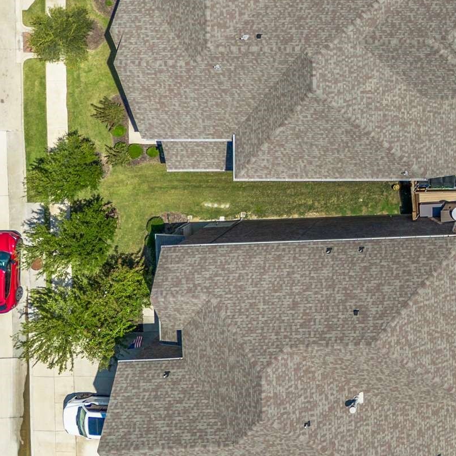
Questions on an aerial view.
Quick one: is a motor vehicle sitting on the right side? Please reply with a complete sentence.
No, the scene shows no motor vehicle on the right side.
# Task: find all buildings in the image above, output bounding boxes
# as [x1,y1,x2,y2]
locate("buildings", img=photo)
[98,217,456,456]
[109,0,456,182]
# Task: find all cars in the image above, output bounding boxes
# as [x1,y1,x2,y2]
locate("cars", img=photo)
[0,230,25,313]
[64,393,110,440]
